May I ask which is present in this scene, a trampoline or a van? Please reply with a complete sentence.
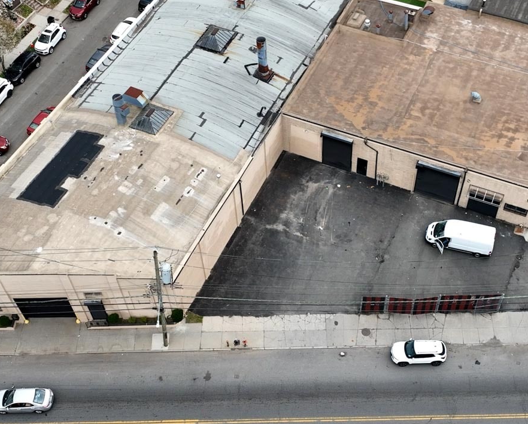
This aerial view contains a van.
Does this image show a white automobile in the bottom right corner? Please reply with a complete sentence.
Yes, looking in the bottom right corner, one can make out a white automobile.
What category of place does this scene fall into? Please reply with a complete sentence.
The area seen from above is an industrial area.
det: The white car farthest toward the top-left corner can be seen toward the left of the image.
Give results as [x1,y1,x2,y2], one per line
[35,23,69,57]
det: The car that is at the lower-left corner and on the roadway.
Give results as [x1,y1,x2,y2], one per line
[0,386,57,417]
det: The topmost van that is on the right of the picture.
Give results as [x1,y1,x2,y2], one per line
[425,224,496,263]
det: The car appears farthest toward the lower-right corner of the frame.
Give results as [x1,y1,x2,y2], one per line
[388,338,449,369]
